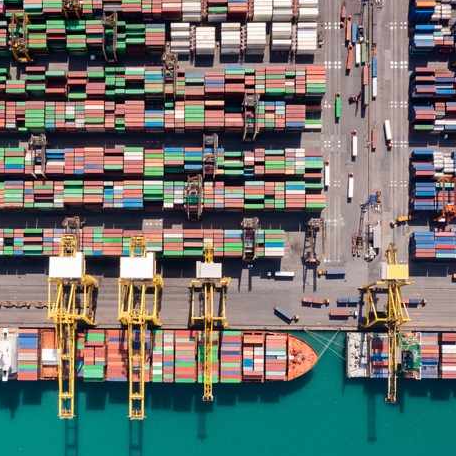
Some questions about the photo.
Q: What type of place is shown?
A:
port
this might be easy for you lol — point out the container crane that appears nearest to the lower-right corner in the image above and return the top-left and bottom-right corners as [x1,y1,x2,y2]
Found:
[353,245,411,402]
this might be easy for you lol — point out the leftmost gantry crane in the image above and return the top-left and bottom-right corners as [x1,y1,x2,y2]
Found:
[12,10,35,62]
